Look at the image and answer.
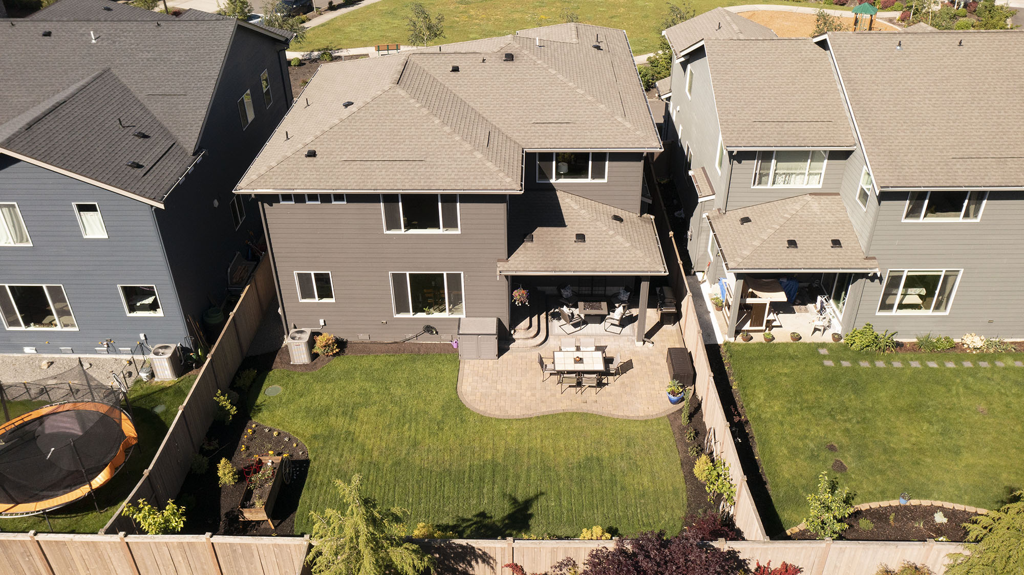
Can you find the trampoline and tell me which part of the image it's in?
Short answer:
bottom left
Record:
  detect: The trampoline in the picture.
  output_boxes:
[0,354,149,533]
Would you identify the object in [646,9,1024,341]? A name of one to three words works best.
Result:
house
